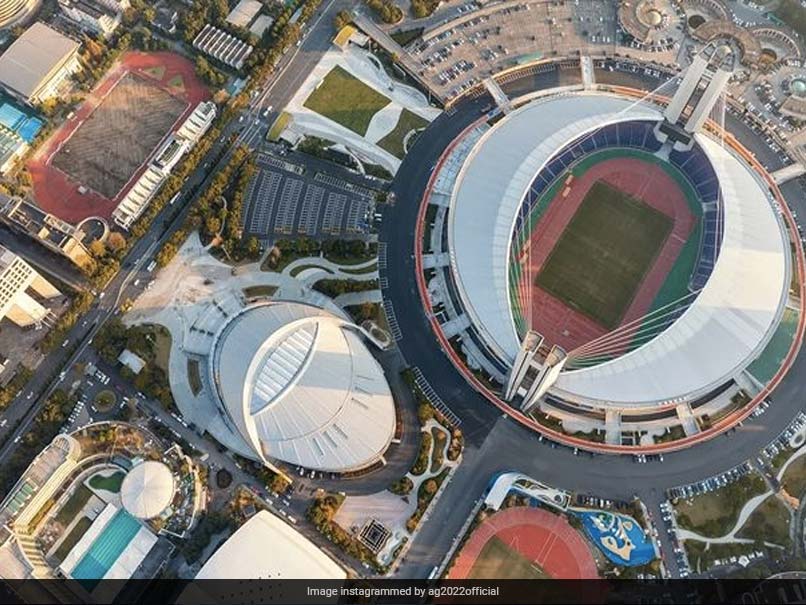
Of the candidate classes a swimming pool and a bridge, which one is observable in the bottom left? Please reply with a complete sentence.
What appears in the bottom left is a swimming pool.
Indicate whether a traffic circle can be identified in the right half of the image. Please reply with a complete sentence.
No, I can find no traffic circle in the right half of the image.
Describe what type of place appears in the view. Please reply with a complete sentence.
It's a sports ground.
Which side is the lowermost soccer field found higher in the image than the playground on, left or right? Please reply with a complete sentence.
The lowermost soccer field found higher in the image than the playground sits on the right side.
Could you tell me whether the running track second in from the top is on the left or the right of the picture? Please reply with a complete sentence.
The running track second in from the top appears in the right half of the scene.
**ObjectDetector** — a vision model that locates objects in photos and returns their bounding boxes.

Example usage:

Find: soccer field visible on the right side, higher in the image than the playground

[532,182,675,333]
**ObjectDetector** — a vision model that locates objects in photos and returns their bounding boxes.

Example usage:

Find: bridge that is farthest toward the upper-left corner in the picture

[350,5,449,106]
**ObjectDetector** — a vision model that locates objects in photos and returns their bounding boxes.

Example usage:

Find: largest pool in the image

[62,503,157,599]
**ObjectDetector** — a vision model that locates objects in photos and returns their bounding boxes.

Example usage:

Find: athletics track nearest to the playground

[426,511,602,605]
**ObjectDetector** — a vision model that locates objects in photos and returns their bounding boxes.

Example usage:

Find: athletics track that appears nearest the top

[28,50,211,223]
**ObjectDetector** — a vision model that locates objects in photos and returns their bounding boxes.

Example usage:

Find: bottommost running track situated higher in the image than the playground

[510,154,698,365]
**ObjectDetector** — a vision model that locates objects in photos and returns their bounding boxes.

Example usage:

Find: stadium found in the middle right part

[411,42,806,451]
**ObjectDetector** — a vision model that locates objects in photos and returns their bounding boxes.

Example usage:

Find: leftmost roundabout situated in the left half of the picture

[79,378,128,425]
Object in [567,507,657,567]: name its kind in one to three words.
playground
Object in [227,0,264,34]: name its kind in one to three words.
shed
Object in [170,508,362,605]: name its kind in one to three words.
building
